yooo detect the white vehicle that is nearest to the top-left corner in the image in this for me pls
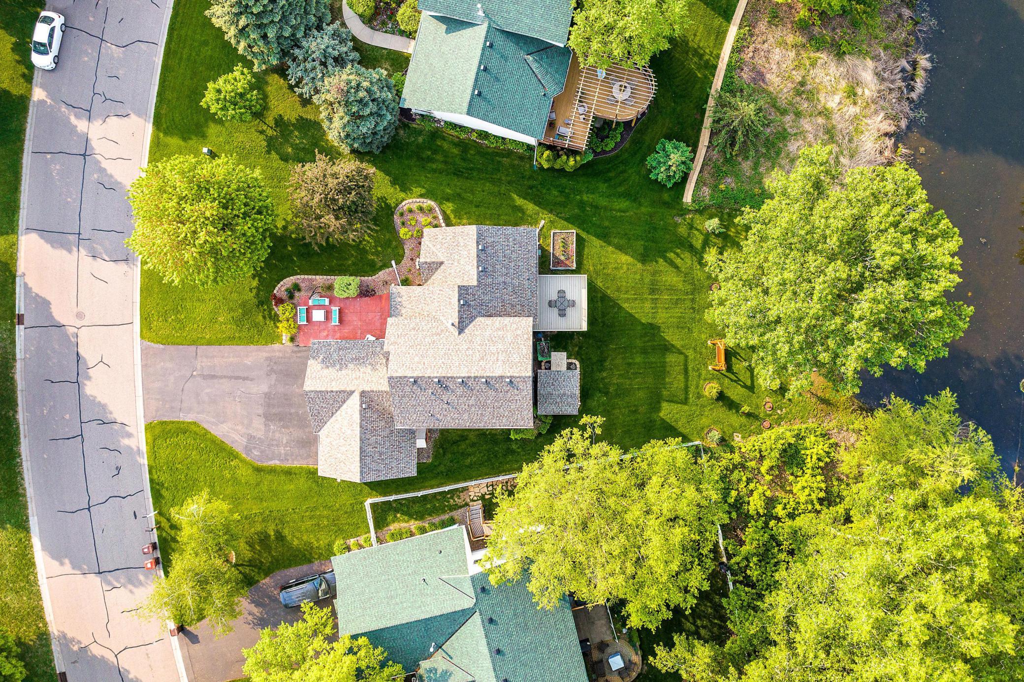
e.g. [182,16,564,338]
[30,11,69,71]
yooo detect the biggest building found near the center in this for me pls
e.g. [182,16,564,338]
[303,223,544,483]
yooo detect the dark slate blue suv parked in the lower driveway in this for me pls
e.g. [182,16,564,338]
[278,569,335,608]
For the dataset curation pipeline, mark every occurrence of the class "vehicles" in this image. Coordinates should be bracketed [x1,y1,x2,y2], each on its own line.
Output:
[30,11,69,71]
[278,569,335,608]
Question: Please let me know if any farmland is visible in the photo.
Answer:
No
